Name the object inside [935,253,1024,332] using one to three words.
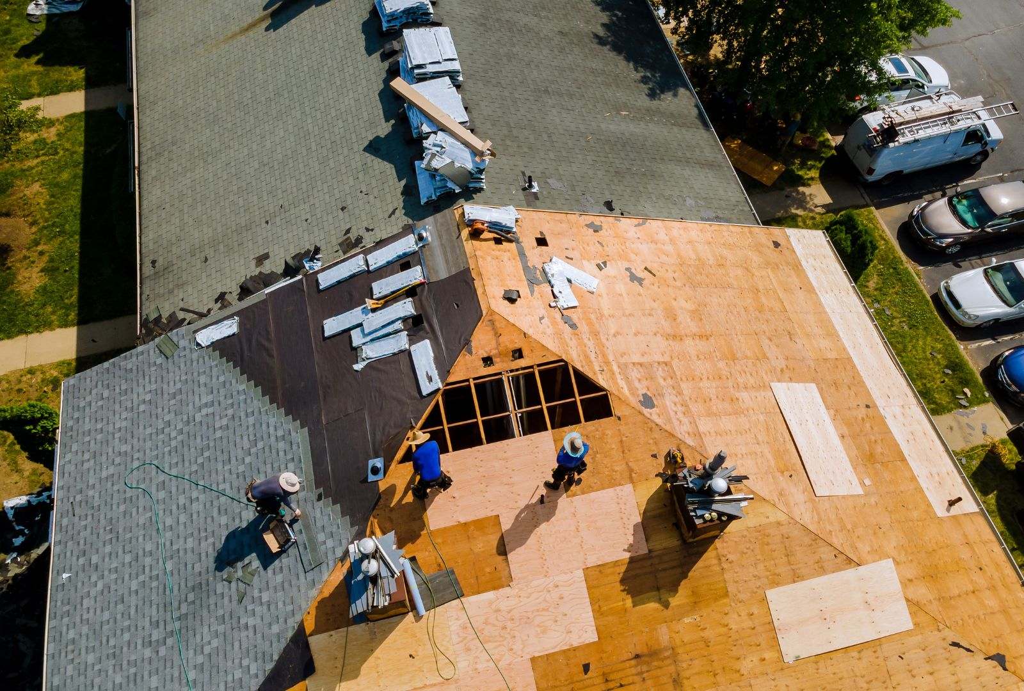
car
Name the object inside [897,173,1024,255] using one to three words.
car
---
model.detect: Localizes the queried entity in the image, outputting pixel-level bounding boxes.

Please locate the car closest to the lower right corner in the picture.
[997,346,1024,408]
